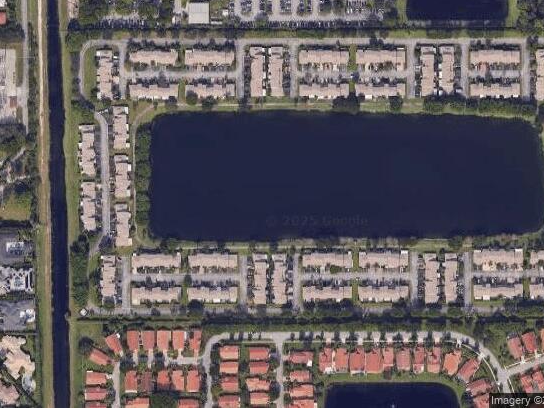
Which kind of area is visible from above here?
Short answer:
residential area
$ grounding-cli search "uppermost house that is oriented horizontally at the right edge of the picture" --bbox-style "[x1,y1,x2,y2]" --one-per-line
[470,48,521,66]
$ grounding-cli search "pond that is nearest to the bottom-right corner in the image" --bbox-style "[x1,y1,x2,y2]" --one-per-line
[325,382,461,408]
